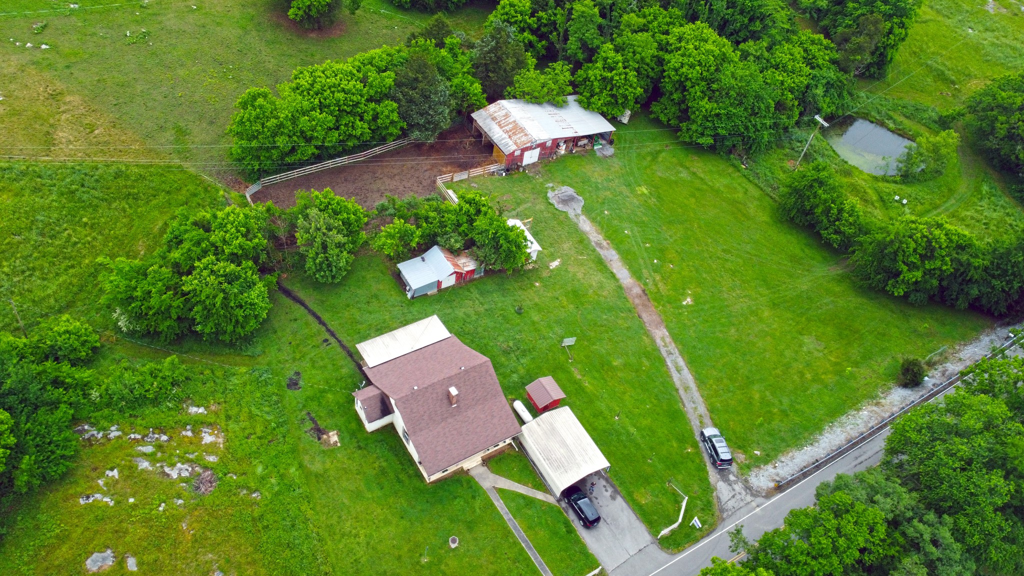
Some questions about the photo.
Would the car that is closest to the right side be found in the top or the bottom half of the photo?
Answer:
bottom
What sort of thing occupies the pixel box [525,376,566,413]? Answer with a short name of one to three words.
shed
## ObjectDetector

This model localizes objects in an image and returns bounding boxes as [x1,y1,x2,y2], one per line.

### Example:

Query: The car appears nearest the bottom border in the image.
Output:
[562,483,604,532]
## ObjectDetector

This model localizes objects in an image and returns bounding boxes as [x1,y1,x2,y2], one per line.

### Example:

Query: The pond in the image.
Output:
[822,119,923,177]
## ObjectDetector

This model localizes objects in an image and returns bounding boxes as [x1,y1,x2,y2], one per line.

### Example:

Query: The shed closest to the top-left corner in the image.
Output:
[398,246,477,297]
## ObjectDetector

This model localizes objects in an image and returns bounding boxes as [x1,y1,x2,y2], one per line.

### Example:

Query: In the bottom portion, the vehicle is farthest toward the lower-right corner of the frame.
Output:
[699,426,733,470]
